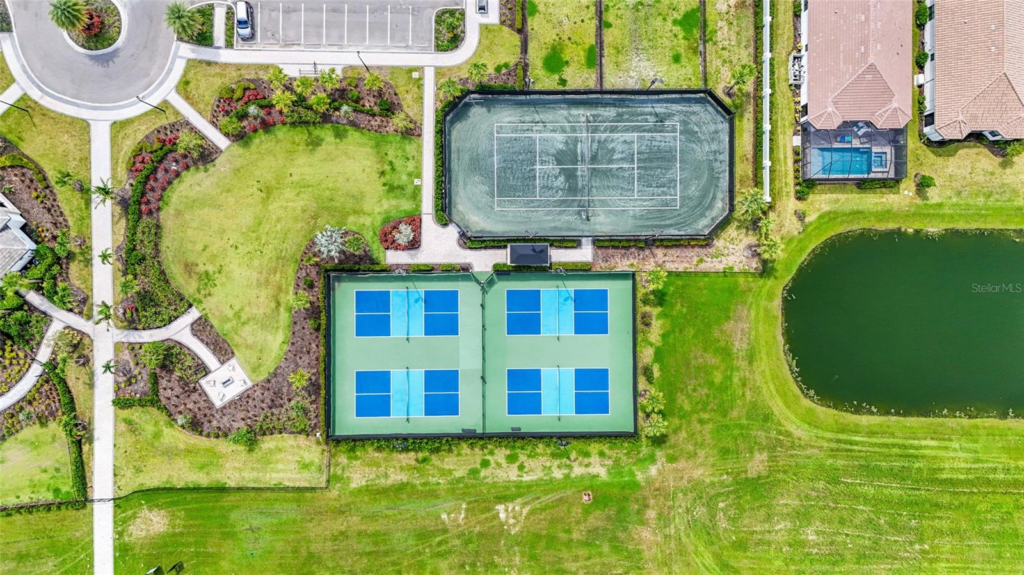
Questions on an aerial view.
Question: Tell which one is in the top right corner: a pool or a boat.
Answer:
pool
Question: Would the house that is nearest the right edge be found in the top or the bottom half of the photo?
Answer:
top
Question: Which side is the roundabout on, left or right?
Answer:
left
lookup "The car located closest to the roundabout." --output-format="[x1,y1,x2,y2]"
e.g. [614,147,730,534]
[234,1,253,38]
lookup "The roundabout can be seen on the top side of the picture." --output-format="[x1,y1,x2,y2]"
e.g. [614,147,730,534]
[5,0,180,110]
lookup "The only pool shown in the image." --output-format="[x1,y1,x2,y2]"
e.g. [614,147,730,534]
[801,122,894,177]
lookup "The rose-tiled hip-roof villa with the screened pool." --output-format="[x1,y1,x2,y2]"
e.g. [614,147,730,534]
[801,0,912,130]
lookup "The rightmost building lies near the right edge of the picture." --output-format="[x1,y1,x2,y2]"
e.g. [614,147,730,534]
[924,0,1024,140]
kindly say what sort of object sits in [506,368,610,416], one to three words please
sports court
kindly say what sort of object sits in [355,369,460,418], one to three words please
sports court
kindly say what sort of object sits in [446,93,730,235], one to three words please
tennis court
